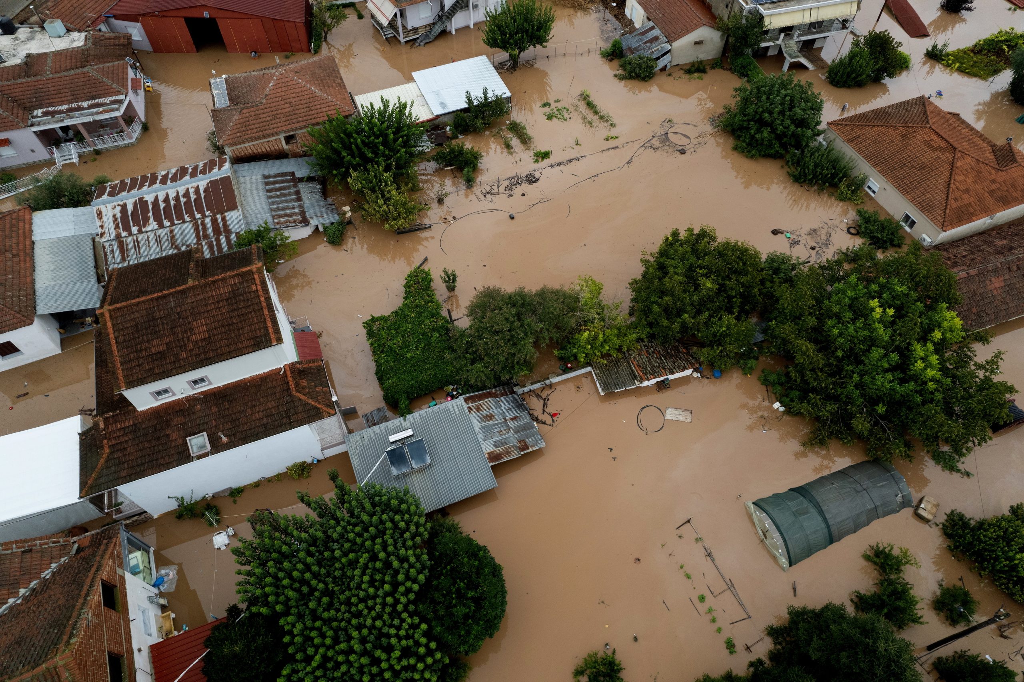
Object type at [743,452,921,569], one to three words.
greenhouse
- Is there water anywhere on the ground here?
Yes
